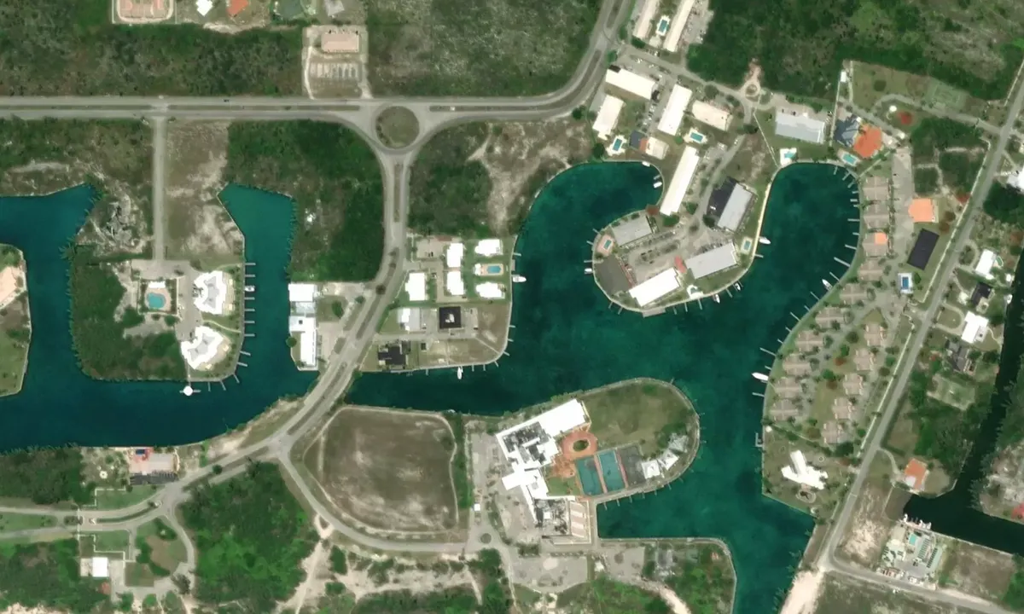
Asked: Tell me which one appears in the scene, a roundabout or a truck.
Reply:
roundabout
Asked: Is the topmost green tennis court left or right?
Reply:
right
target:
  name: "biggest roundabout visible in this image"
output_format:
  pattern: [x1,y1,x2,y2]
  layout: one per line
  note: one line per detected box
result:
[368,97,427,157]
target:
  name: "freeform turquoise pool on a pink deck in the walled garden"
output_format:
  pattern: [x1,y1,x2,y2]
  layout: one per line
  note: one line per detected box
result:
[145,289,171,312]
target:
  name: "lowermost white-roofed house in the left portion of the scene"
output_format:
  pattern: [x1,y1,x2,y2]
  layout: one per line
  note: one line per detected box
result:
[92,557,109,577]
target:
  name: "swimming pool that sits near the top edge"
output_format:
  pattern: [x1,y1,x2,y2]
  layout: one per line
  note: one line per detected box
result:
[657,16,671,35]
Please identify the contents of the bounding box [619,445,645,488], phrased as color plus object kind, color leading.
gray tennis court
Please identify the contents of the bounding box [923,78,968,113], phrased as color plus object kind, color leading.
green tennis court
